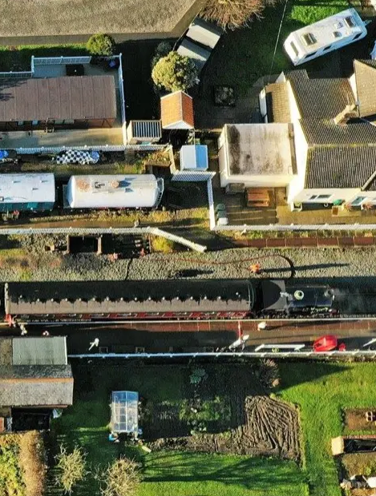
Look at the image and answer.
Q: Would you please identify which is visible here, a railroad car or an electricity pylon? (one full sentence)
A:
This aerial view contains a railroad car.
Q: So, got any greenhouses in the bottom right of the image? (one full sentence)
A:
No, no greenhouse appears in the bottom right of the image.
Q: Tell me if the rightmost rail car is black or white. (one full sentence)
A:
The color of the rightmost rail car is black.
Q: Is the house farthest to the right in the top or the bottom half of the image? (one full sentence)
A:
The house farthest to the right sits in the top half of the picture.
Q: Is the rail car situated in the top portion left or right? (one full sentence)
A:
It is on the left.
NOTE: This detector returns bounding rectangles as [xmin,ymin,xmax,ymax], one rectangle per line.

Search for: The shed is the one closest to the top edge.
[187,19,222,53]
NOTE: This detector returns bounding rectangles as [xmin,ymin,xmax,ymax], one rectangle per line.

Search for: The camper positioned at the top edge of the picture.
[280,13,357,68]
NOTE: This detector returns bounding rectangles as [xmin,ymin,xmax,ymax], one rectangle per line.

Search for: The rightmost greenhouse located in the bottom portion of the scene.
[108,392,139,433]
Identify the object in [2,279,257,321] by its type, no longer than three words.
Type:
rail car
